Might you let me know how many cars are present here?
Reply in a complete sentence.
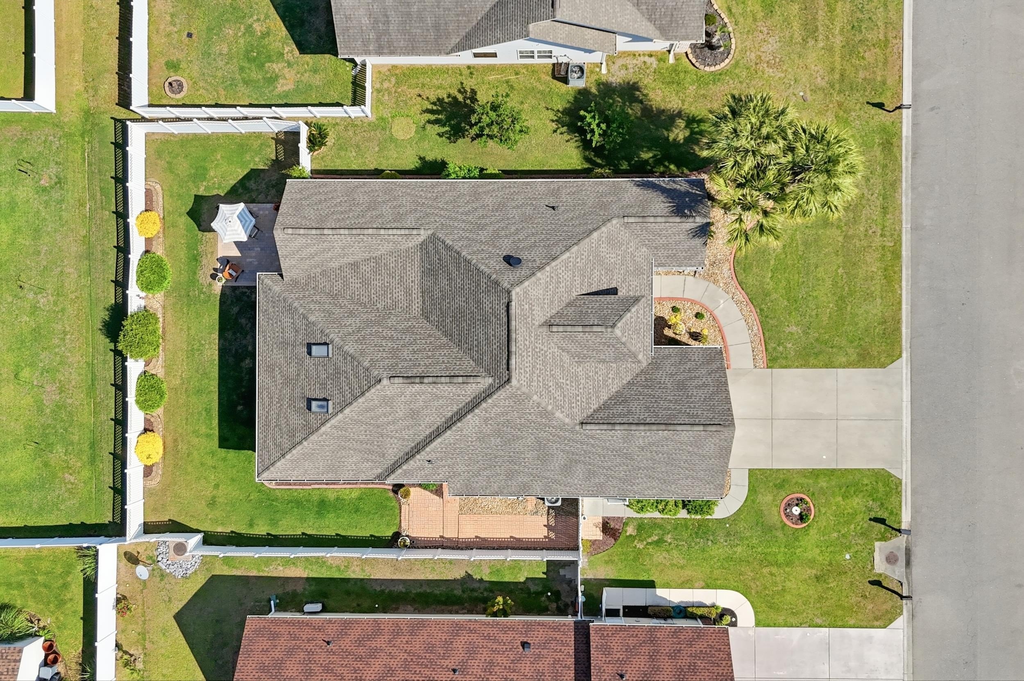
I count no cars.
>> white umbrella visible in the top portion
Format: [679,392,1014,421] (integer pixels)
[211,202,257,244]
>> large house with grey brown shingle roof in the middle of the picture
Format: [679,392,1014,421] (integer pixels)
[254,177,738,501]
